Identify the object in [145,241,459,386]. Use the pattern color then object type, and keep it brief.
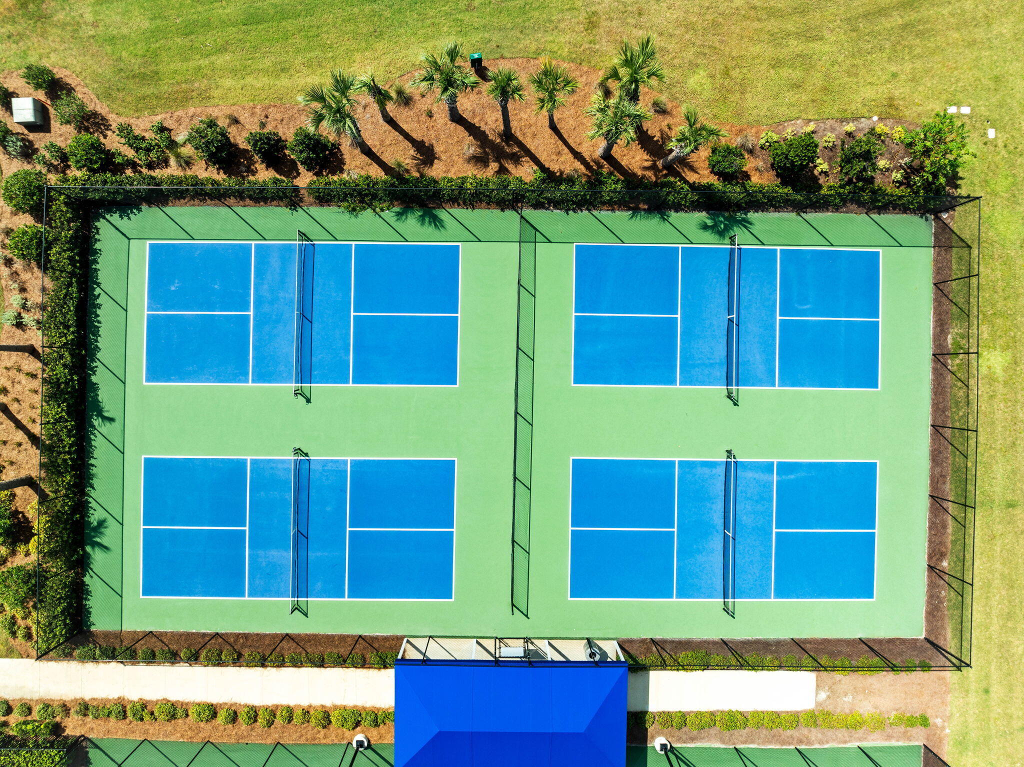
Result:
blue sports court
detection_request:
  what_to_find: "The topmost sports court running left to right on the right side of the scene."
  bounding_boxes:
[573,244,882,390]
